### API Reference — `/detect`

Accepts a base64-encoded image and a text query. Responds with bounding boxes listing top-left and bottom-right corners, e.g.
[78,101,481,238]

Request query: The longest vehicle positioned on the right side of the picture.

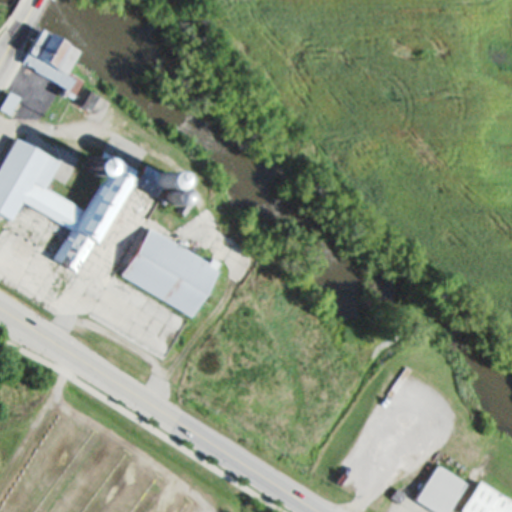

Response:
[386,366,408,401]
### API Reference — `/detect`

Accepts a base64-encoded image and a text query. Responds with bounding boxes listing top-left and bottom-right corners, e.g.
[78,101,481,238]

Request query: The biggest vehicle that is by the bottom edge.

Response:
[338,467,351,488]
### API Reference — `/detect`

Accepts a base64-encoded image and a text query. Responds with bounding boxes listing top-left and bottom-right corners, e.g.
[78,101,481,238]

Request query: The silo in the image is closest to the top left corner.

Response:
[83,157,126,180]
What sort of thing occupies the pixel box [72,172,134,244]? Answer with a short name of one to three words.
barn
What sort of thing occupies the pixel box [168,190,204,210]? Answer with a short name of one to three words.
silo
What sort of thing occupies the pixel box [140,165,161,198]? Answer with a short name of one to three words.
shed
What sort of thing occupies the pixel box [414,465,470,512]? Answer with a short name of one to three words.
building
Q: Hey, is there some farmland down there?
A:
Yes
